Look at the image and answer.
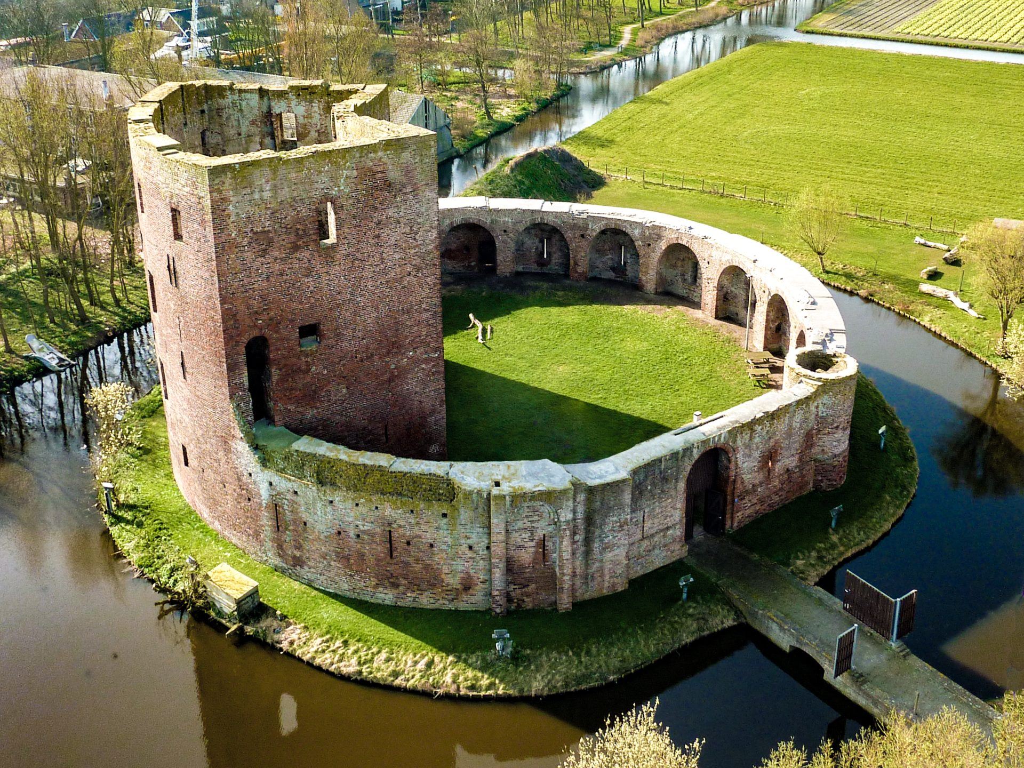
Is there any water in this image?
Yes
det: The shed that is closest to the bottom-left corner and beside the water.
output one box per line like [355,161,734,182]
[205,563,258,621]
